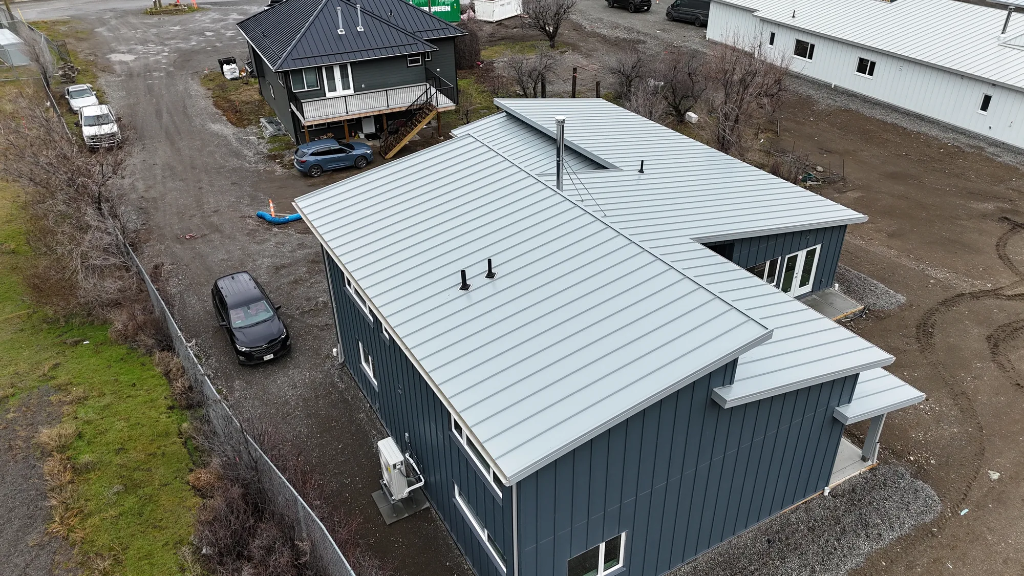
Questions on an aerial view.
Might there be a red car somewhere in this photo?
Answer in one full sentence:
No, no red car can be seen from above.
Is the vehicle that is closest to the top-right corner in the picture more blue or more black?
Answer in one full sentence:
From above, the vehicle that is closest to the top-right corner appears black.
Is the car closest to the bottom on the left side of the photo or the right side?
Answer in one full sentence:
You can find the car closest to the bottom on the left side of the picture.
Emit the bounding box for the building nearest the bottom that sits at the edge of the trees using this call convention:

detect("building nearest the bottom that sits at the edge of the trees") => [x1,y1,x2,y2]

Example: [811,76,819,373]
[292,97,928,576]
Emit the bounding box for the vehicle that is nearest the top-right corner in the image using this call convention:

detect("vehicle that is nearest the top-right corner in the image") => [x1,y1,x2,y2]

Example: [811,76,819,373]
[659,0,710,24]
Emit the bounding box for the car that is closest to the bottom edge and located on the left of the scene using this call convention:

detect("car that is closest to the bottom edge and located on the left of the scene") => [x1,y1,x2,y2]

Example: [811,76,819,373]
[210,270,286,360]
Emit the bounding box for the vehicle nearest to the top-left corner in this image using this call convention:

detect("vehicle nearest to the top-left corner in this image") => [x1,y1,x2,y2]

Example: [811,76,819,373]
[65,85,100,116]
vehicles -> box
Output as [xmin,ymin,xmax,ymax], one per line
[659,0,710,24]
[65,85,100,116]
[604,0,650,11]
[74,102,124,150]
[288,136,376,177]
[210,270,286,360]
